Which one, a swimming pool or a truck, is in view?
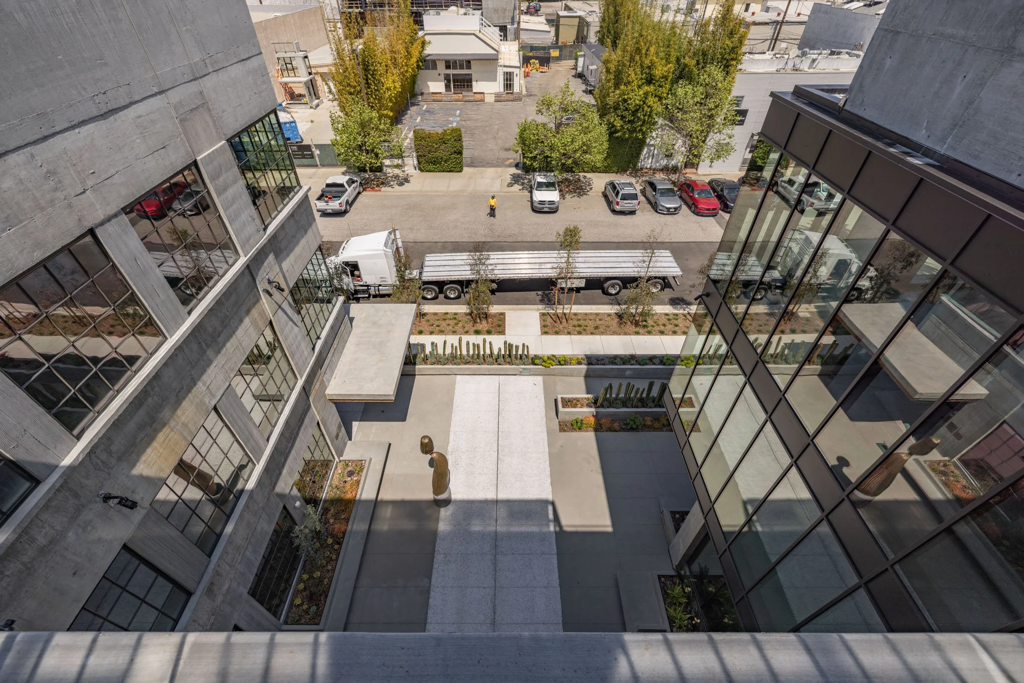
truck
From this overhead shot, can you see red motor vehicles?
Yes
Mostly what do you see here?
buildings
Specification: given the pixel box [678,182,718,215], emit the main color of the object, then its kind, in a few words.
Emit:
red car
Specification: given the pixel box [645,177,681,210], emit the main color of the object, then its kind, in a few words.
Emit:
gray car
